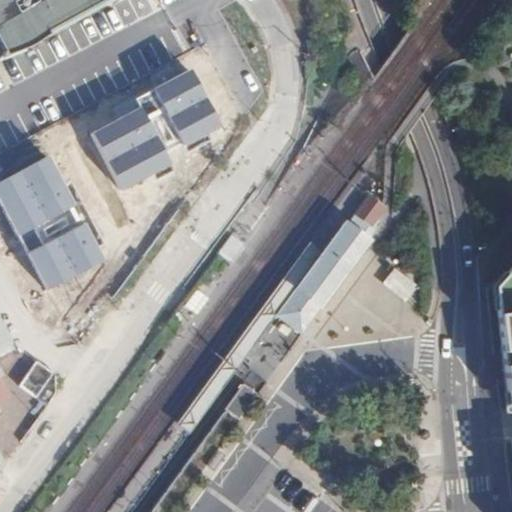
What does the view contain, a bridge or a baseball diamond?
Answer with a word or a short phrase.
bridge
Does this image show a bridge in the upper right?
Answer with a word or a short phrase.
Yes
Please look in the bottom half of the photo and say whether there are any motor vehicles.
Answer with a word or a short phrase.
Yes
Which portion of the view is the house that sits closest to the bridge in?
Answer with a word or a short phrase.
right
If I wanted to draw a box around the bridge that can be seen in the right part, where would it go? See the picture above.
[350,32,457,144]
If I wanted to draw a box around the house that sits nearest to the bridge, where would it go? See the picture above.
[356,193,390,228]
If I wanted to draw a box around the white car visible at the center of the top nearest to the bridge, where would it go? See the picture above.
[244,70,258,91]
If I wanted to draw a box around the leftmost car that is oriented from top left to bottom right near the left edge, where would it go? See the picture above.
[5,56,22,78]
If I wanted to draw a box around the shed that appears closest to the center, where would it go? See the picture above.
[220,234,246,262]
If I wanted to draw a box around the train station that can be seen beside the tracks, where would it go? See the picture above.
[48,129,391,512]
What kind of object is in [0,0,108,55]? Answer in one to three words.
building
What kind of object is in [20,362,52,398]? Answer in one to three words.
building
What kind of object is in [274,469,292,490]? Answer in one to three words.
car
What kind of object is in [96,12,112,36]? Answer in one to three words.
car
